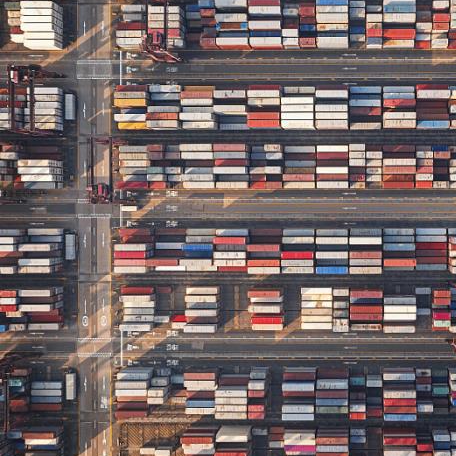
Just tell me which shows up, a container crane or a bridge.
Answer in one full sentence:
Looking from above, you can make out a container crane.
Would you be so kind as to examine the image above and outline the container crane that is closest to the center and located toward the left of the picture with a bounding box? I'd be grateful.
[84,134,137,204]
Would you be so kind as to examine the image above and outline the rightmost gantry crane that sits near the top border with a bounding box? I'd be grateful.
[139,0,188,62]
